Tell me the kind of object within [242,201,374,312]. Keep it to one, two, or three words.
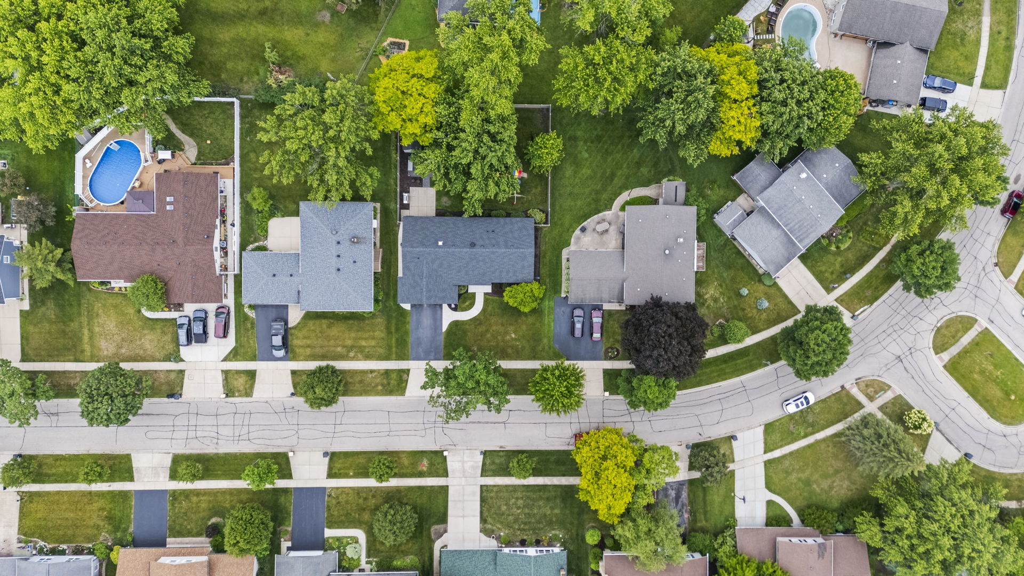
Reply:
house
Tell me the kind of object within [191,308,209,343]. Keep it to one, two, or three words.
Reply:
vehicle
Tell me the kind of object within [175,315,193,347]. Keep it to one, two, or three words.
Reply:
car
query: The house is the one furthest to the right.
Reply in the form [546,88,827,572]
[824,0,950,108]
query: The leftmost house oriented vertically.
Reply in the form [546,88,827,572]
[0,234,31,305]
